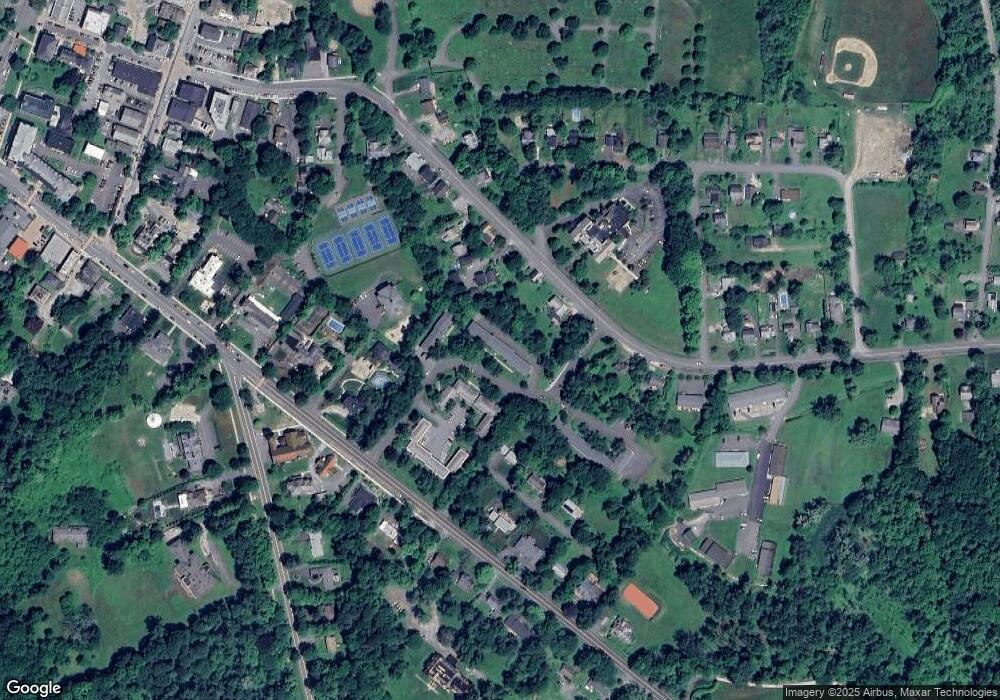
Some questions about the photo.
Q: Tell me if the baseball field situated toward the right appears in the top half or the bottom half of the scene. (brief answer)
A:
top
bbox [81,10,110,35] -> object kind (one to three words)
building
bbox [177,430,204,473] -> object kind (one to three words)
house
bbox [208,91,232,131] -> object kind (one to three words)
building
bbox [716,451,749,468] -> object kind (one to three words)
shed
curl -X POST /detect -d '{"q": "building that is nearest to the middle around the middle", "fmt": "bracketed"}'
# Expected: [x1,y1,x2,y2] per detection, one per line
[466,323,532,376]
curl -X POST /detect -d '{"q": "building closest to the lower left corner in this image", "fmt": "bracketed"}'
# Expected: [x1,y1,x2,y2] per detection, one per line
[52,529,88,550]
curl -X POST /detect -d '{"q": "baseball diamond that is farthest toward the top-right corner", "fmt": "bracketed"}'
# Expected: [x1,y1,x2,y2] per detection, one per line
[819,0,939,103]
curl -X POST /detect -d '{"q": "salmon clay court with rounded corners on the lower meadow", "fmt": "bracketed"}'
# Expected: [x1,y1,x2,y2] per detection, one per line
[620,581,662,621]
